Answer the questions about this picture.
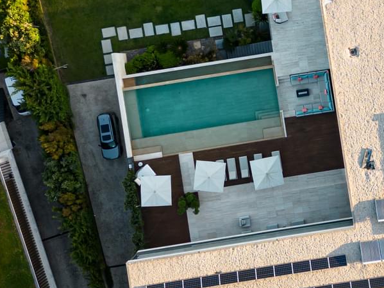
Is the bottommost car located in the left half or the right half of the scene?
left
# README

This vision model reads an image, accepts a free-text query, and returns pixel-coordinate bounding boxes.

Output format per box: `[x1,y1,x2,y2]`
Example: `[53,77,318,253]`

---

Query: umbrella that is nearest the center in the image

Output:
[193,160,227,193]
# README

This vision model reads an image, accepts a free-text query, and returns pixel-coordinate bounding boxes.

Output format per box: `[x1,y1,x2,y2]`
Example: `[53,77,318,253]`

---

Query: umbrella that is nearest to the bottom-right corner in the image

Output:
[249,155,285,191]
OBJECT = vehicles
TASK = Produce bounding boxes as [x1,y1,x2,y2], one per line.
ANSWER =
[0,72,33,118]
[97,112,122,160]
